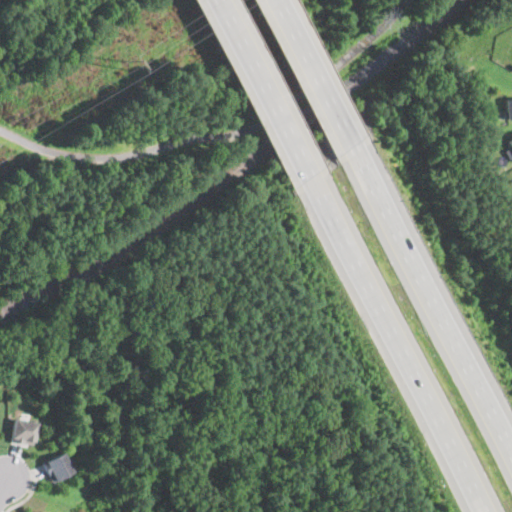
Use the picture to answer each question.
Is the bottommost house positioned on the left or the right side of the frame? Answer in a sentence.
The bottommost house is on the left side of the image.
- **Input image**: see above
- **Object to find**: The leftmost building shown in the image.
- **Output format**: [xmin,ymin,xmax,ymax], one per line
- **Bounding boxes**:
[12,412,40,448]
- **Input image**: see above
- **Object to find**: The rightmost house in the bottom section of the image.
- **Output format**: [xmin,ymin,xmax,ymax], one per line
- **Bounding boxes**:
[42,456,77,484]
